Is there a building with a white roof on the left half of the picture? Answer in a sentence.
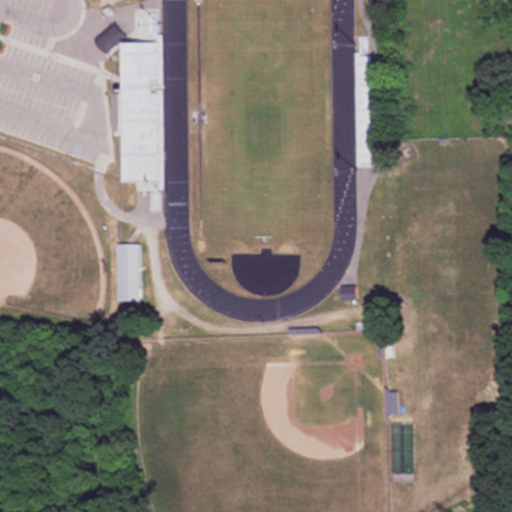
Yes, a building with a white roof shows up on the left half of the picture.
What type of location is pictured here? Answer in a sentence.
The picture captures a sports ground.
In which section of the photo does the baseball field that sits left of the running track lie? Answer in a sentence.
Look in the left portion of the view to spot the baseball field that sits left of the running track.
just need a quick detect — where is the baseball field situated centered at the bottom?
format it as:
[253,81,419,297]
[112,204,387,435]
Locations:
[138,330,390,512]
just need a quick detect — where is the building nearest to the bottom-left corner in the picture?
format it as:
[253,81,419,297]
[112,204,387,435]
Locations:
[116,244,141,303]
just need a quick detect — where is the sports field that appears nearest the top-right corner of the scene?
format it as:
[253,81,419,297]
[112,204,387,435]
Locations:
[188,0,332,298]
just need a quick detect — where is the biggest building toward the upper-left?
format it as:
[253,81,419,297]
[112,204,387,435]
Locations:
[94,22,127,52]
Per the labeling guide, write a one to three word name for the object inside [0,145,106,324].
baseball field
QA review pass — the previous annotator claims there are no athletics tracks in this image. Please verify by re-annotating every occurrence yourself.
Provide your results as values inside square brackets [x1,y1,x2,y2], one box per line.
[164,0,356,322]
